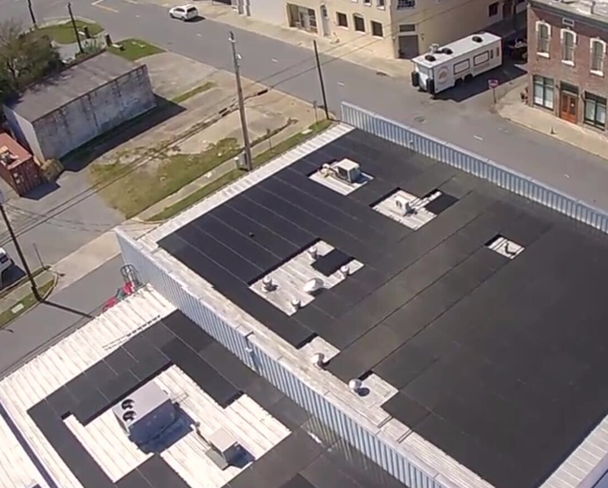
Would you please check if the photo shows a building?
Yes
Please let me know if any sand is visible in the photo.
No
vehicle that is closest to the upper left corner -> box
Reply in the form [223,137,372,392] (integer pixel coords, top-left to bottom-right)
[60,46,84,62]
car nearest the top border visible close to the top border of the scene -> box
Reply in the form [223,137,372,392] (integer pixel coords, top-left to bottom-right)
[170,8,198,21]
